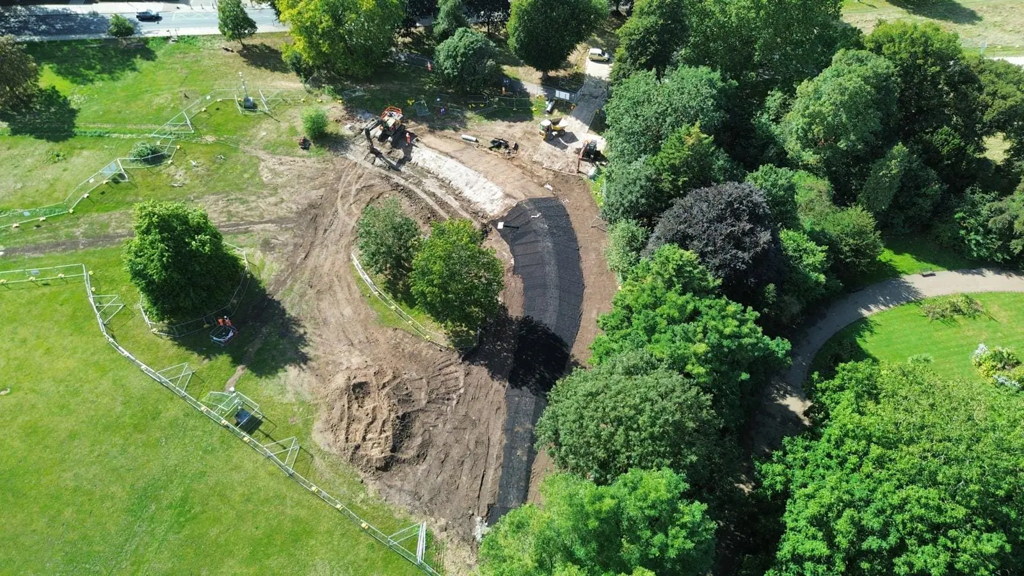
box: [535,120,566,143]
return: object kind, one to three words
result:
truck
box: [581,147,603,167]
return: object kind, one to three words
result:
work vehicle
